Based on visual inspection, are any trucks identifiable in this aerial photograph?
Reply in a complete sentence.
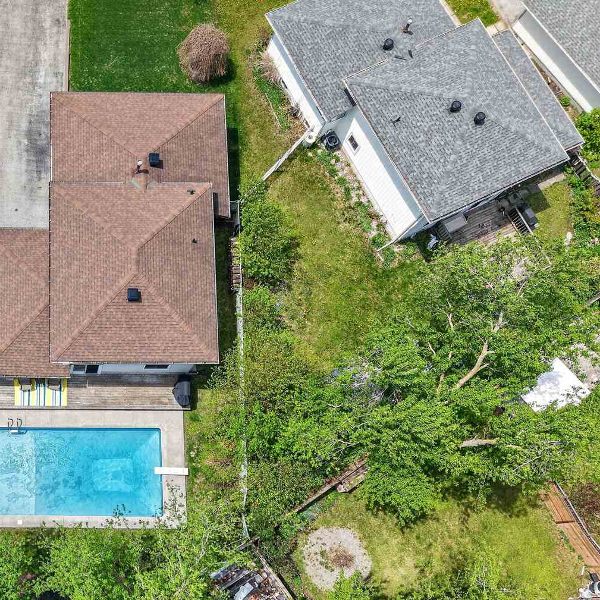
No, there's no truck here.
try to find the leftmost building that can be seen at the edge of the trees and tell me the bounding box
[0,91,230,377]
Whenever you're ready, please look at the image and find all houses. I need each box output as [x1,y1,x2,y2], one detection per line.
[262,0,586,251]
[0,91,230,377]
